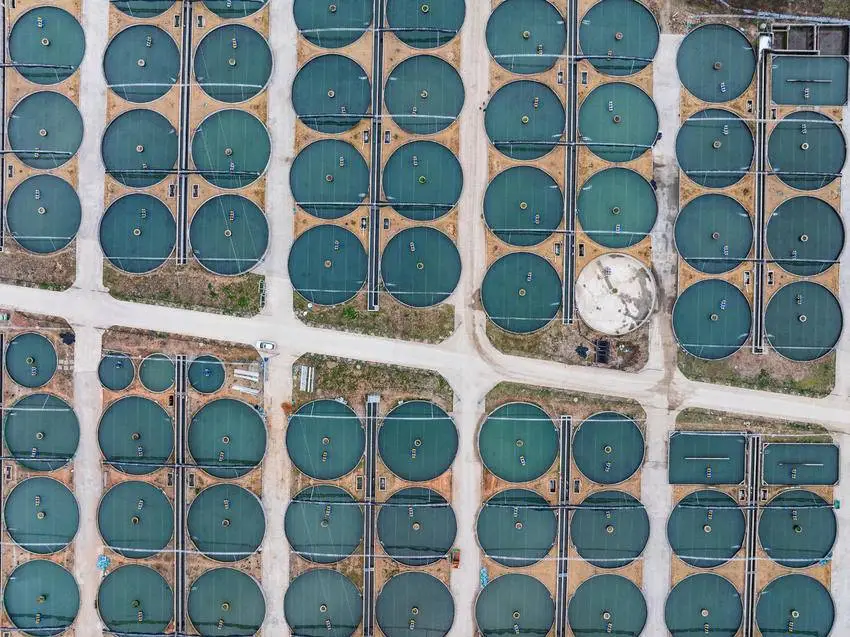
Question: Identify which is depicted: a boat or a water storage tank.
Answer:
water storage tank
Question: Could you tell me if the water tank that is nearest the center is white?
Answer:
No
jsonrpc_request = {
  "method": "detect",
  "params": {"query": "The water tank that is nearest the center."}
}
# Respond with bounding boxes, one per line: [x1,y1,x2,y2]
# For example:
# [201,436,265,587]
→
[381,226,462,307]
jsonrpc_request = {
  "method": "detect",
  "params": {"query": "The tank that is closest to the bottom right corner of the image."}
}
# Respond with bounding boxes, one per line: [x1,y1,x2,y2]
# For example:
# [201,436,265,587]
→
[756,572,835,637]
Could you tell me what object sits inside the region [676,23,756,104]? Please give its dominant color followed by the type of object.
blue water tank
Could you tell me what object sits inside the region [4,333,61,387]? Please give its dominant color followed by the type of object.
blue water tank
